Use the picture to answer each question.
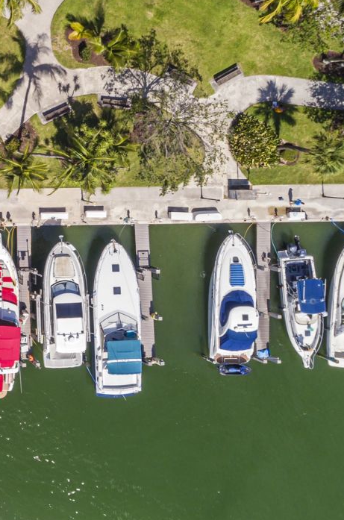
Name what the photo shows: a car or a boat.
boat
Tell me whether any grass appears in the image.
Yes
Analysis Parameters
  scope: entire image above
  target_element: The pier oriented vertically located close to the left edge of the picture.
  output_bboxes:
[16,227,33,359]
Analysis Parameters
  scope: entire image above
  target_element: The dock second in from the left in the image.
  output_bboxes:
[133,226,155,359]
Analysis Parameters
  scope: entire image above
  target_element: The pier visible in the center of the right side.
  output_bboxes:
[254,224,272,351]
